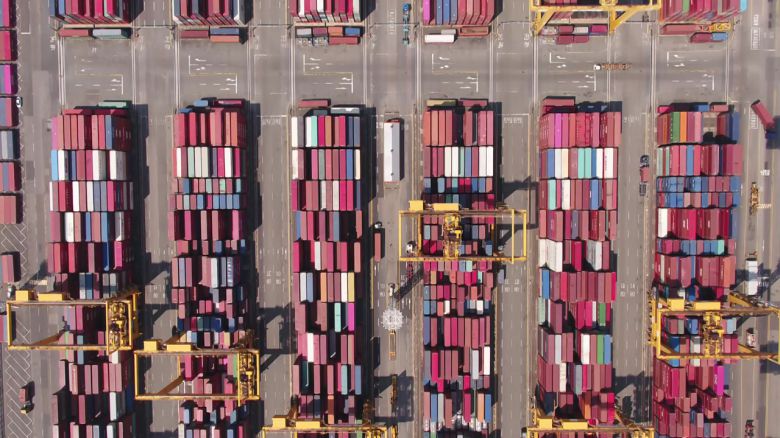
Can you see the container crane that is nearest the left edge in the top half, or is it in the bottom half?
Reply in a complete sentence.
The container crane that is nearest the left edge is in the bottom half of the image.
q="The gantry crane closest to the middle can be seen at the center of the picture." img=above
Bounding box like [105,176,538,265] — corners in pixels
[401,196,526,266]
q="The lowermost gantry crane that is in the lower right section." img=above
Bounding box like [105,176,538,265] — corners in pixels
[528,399,657,438]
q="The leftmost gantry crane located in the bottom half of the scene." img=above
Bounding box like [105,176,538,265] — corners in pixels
[7,283,142,356]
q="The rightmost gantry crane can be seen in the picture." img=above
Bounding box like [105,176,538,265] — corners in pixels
[649,290,780,364]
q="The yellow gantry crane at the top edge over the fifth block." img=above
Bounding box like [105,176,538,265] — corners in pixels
[529,0,658,38]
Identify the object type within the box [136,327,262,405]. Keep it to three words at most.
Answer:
container crane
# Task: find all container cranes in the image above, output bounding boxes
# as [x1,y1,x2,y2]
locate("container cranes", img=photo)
[529,0,658,38]
[528,399,657,438]
[264,396,387,438]
[649,290,780,364]
[136,327,262,405]
[401,196,526,266]
[7,283,142,356]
